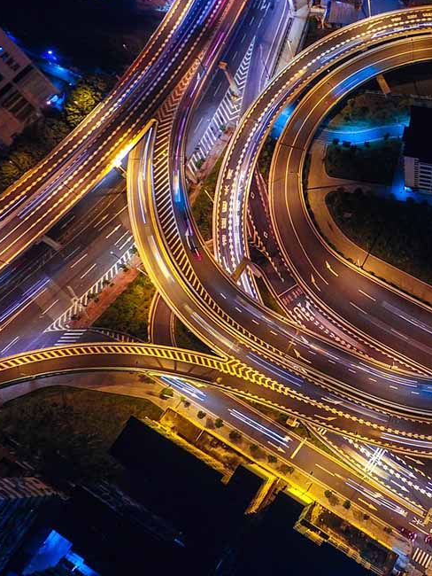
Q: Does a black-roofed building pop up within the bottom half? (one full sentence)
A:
Yes, a black-roofed building is visible within the bottom half.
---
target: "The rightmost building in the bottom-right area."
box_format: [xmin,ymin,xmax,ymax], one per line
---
[264,489,387,576]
